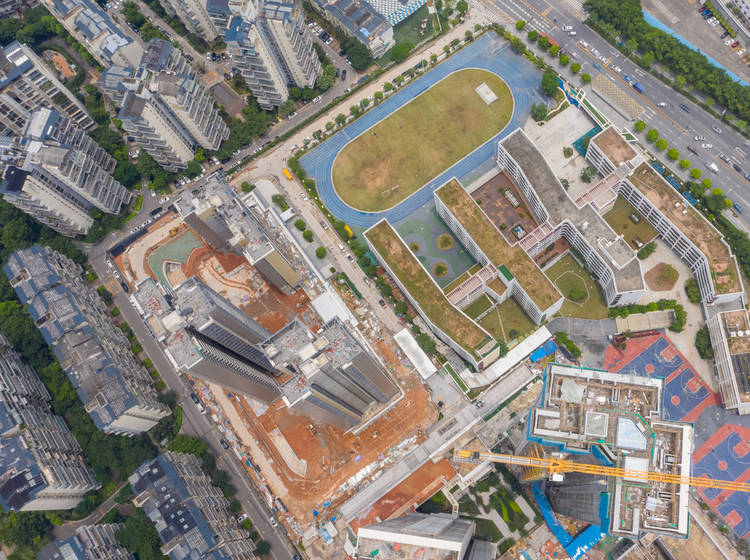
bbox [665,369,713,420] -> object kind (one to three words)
basketball court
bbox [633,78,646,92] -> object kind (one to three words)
vehicle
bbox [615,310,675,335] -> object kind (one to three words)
building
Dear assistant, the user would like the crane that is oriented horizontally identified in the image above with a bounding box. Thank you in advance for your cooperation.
[452,446,750,492]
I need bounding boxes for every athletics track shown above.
[299,30,556,228]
